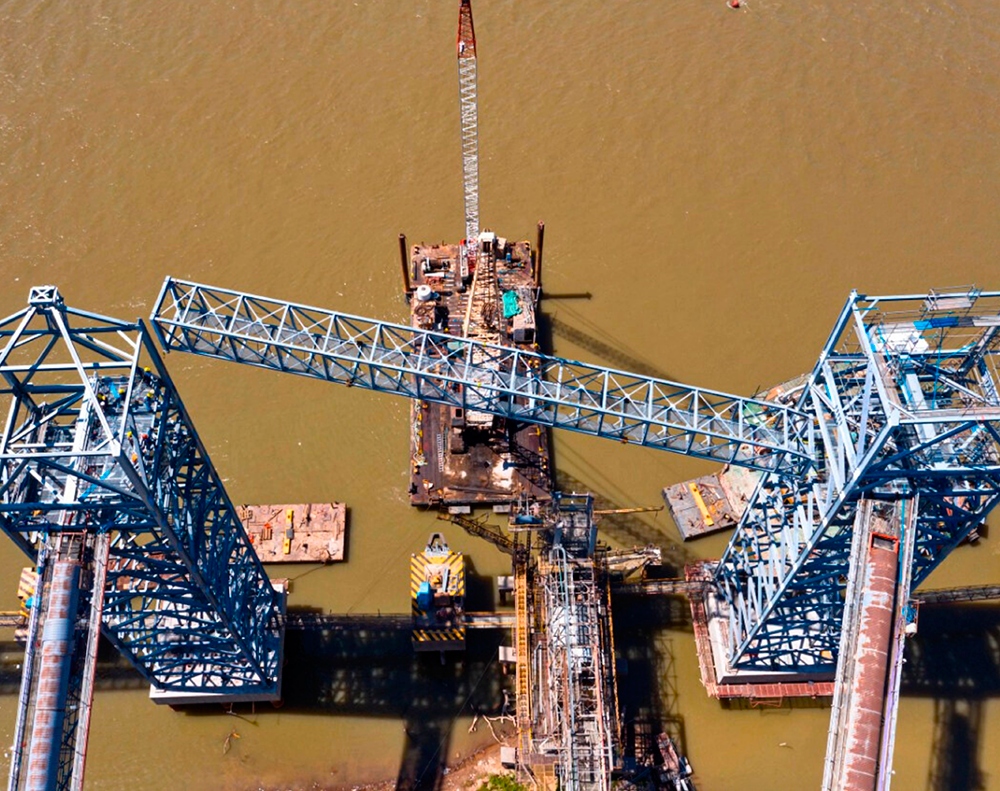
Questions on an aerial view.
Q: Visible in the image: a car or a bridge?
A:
bridge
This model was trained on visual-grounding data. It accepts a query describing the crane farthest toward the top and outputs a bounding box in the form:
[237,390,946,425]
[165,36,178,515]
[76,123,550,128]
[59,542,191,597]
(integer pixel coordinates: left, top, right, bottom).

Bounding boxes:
[455,0,481,292]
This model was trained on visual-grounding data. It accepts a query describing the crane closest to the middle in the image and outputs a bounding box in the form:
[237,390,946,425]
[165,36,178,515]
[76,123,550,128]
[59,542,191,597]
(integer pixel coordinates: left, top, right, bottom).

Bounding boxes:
[447,231,517,465]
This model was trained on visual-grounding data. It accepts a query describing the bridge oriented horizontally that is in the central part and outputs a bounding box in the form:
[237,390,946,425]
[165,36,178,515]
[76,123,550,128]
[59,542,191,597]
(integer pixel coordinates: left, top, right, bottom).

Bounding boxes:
[148,259,814,481]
